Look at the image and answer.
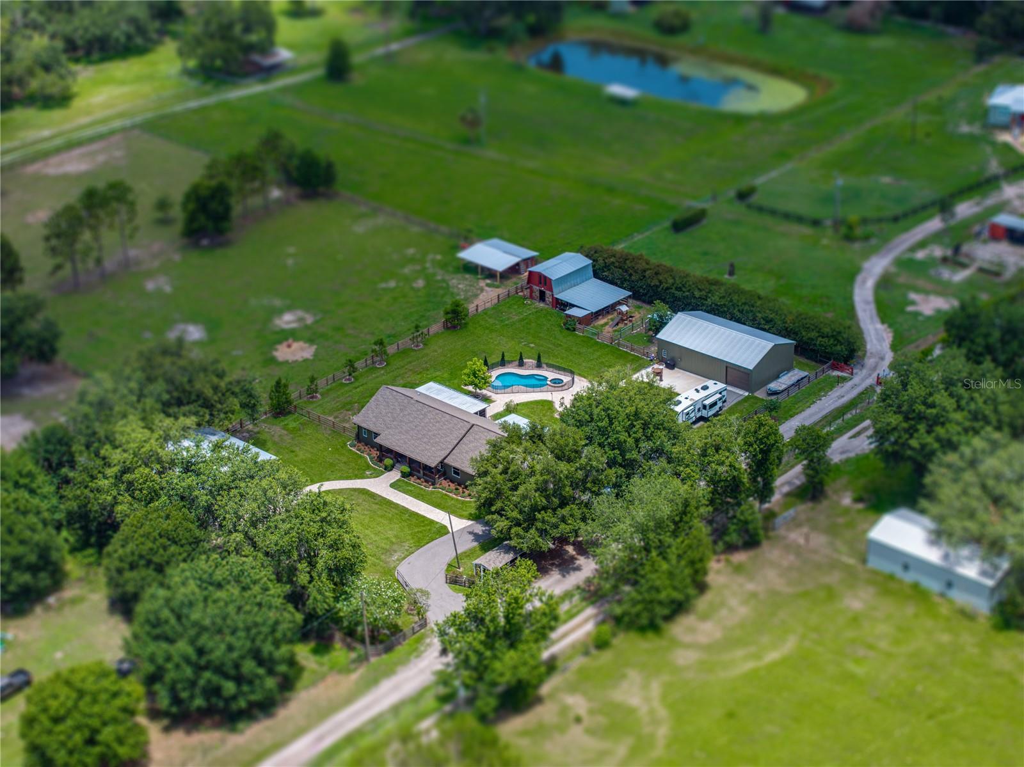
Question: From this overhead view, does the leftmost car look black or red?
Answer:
black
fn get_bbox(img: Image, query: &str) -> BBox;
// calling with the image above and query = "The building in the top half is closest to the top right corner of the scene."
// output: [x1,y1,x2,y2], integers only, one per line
[987,96,1024,133]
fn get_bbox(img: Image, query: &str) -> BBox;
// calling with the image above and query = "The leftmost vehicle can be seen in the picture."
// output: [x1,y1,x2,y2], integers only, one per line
[0,675,31,699]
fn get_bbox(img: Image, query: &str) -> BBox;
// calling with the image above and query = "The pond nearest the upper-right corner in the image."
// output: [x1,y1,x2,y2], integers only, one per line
[534,39,756,108]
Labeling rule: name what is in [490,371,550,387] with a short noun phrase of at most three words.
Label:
swimming pool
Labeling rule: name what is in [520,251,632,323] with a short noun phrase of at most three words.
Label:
barn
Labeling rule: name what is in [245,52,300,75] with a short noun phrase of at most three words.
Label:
shed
